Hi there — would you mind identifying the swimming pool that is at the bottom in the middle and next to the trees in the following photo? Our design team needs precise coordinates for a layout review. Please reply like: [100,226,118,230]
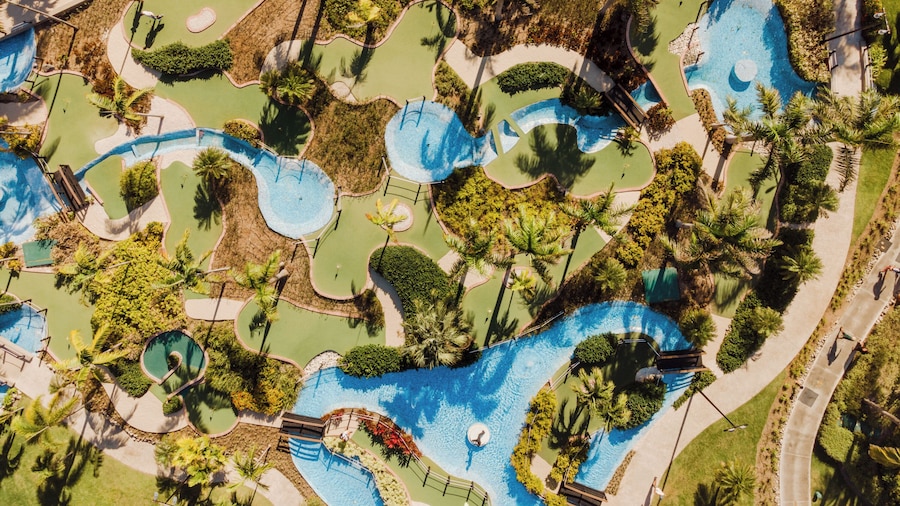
[289,301,698,506]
